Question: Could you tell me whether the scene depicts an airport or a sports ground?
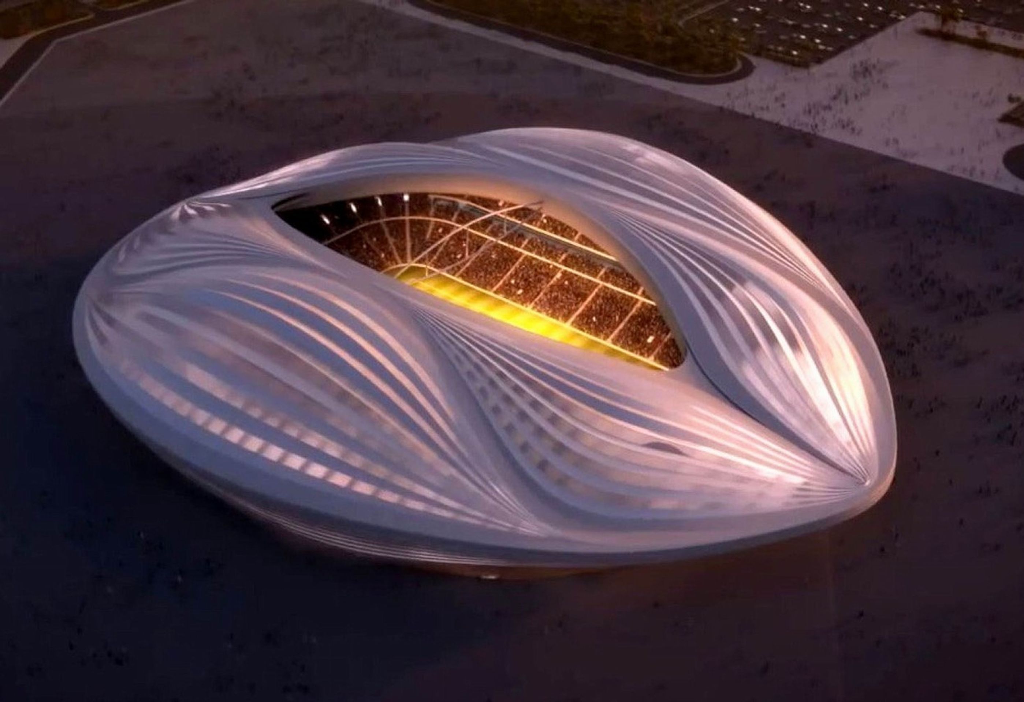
sports ground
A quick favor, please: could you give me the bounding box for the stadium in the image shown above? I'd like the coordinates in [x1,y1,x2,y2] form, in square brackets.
[73,129,897,581]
